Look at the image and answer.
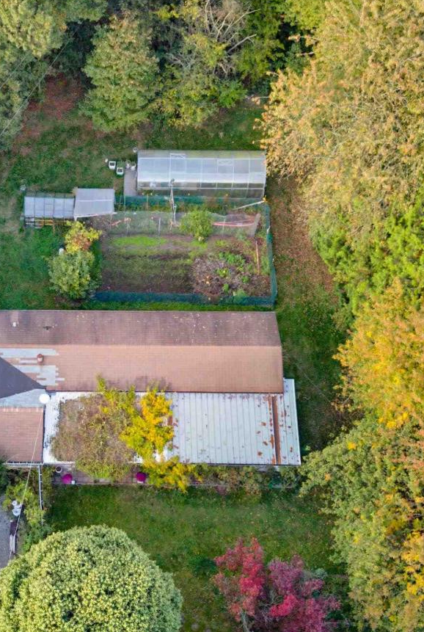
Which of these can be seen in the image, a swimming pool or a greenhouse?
greenhouse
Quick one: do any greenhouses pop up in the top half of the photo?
Yes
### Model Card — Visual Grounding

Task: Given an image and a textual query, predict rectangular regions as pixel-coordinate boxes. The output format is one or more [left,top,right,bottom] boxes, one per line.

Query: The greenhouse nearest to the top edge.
[135,148,269,197]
